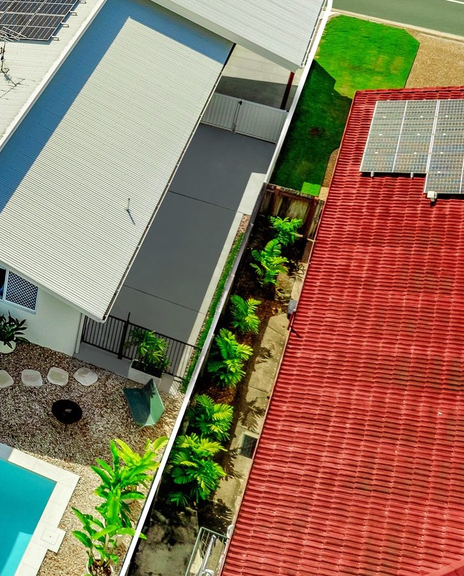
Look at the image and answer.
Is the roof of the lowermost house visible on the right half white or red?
red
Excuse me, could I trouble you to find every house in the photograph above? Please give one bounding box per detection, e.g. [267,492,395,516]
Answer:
[0,0,237,357]
[213,82,464,576]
